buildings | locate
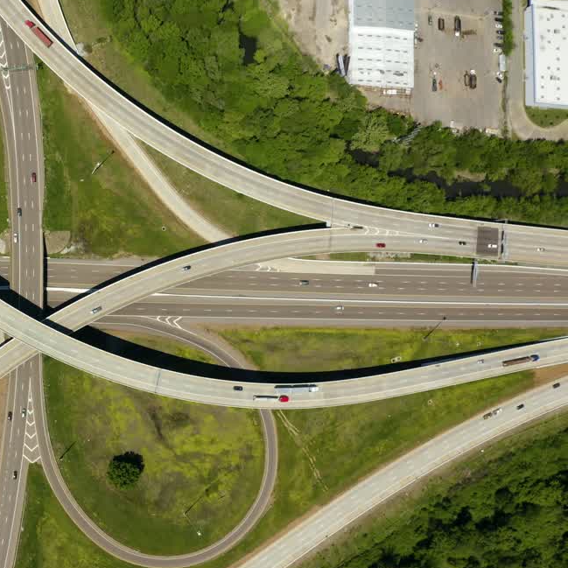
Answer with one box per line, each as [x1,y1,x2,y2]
[346,0,415,90]
[520,4,568,108]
